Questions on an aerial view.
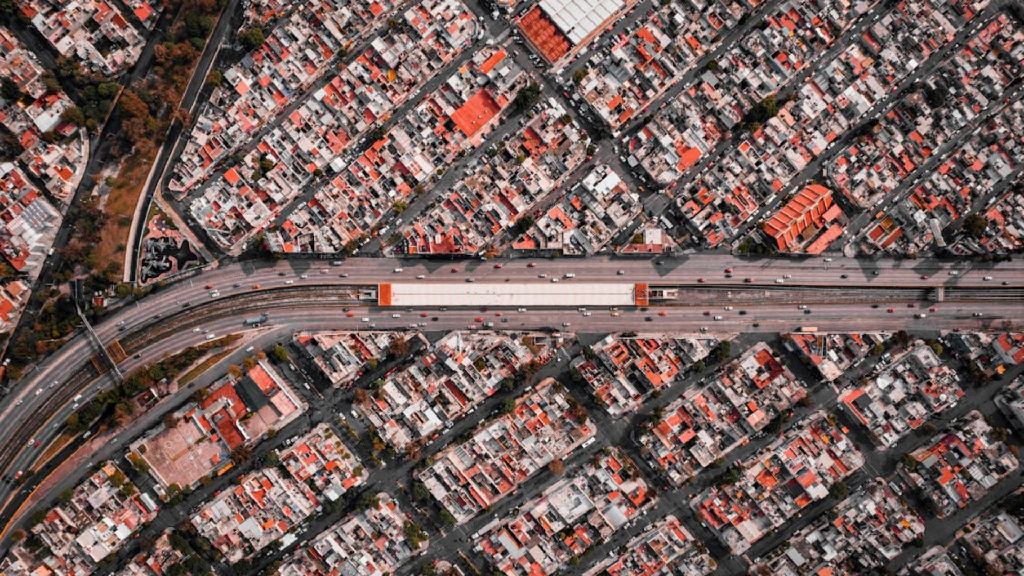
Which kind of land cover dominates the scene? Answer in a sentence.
For the most part, this view shows buildings.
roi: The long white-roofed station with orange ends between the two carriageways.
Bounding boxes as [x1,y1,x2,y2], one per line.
[378,283,649,306]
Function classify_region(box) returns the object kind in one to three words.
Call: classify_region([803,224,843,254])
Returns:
building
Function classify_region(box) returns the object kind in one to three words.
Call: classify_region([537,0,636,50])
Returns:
building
